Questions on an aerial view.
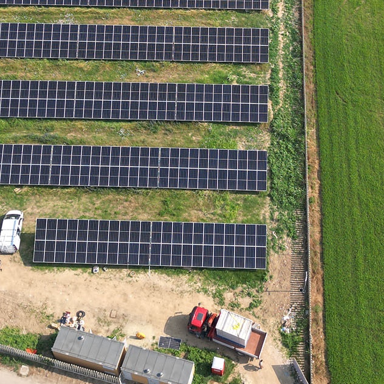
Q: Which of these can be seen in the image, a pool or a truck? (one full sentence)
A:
It is a truck that can be seen here.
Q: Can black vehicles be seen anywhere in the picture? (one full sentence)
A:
No, the photo shows no black vehicle.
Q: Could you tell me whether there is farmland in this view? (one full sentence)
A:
Yes, there is farmland in the image.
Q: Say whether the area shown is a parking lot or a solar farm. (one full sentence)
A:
It's a solar farm.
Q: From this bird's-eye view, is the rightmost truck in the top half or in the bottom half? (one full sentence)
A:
The rightmost truck sits in the bottom half of the picture.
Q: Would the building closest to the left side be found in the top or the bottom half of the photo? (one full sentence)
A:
Seen from above, the building closest to the left side lies in the bottom half of the view.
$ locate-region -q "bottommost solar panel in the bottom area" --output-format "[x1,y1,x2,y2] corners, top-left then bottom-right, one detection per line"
[157,337,181,351]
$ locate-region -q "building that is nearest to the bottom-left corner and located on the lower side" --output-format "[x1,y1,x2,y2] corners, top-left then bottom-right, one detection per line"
[51,326,126,377]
